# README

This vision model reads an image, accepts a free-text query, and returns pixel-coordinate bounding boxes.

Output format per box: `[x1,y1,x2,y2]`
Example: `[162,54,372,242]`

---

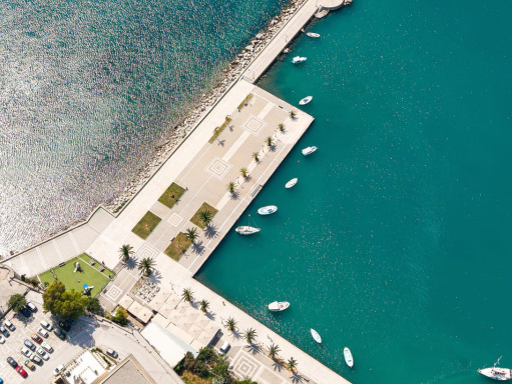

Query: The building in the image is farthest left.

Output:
[63,348,112,384]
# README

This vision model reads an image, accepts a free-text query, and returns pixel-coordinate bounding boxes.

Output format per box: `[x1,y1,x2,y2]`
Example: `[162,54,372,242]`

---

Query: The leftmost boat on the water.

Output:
[235,217,260,233]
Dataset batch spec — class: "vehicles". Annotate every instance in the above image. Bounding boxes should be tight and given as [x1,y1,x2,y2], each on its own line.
[52,326,67,341]
[17,304,32,318]
[23,299,38,313]
[0,324,11,338]
[52,361,65,376]
[19,344,32,358]
[29,330,43,345]
[13,363,29,379]
[2,318,17,332]
[22,336,37,352]
[0,334,6,345]
[39,338,55,354]
[5,354,19,368]
[58,318,72,332]
[23,357,38,372]
[36,325,50,339]
[105,346,120,361]
[217,338,232,354]
[28,352,45,367]
[35,346,51,361]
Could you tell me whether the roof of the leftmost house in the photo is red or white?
white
